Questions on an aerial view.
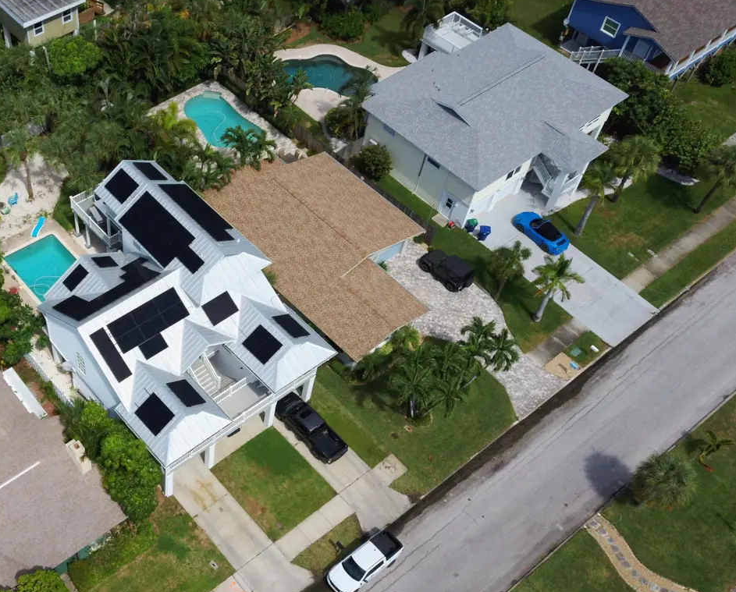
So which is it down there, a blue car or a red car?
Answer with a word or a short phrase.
blue car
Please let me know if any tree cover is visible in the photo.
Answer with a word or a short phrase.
Yes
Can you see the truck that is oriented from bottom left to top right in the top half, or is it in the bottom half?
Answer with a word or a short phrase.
bottom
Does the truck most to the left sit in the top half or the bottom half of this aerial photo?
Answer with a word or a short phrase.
bottom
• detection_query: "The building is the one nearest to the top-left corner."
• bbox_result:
[0,0,99,69]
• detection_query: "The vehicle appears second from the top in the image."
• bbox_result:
[417,251,473,290]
